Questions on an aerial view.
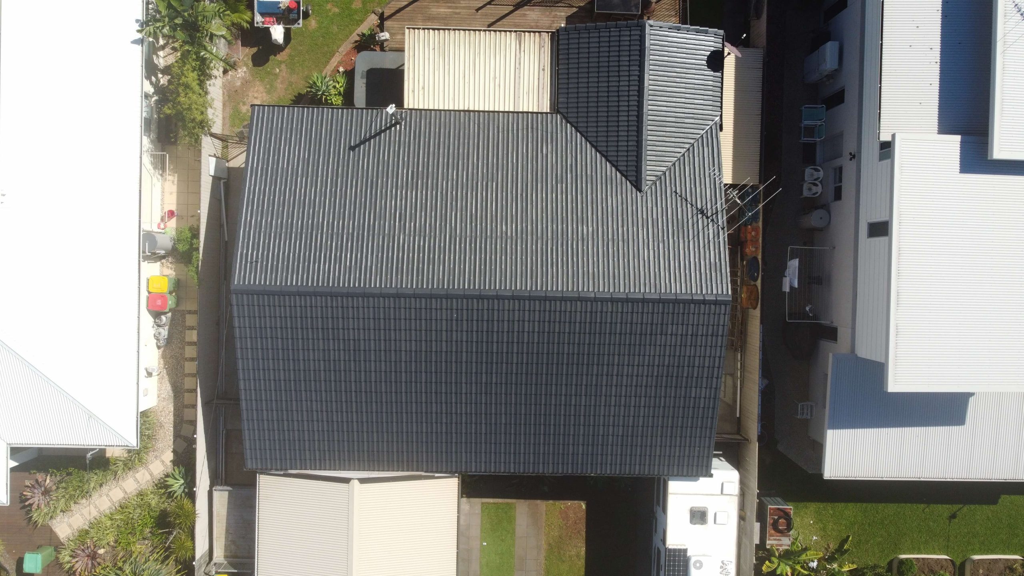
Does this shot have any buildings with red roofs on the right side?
No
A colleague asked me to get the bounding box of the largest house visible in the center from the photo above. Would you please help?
[227,19,733,478]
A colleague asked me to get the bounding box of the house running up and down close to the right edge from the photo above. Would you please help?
[808,0,1024,483]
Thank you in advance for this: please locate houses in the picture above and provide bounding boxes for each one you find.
[227,19,733,478]
[808,0,1024,483]
[0,0,160,508]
